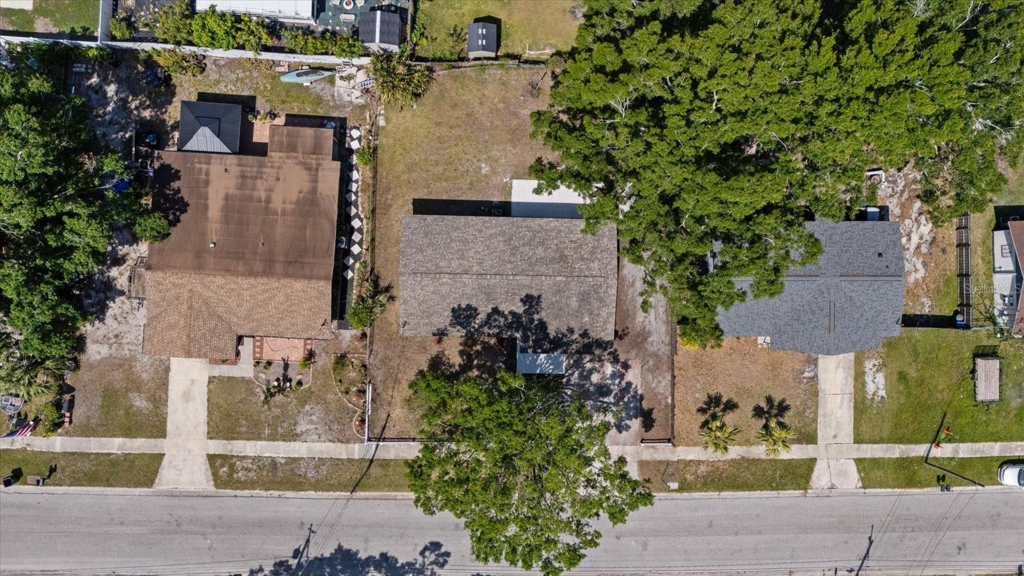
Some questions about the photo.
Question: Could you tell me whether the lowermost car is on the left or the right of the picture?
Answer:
right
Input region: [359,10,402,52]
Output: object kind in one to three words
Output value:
shed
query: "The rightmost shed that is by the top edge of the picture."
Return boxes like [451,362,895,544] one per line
[468,23,497,60]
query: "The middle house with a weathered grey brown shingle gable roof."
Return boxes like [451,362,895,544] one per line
[399,215,619,355]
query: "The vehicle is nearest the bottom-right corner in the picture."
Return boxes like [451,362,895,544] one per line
[1000,460,1024,487]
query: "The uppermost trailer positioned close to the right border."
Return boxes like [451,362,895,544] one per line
[966,353,1009,416]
